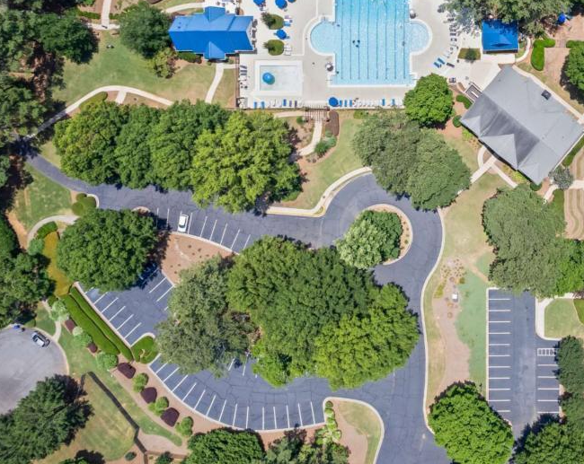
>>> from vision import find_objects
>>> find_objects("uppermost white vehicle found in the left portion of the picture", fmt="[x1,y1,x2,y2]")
[176,213,188,233]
